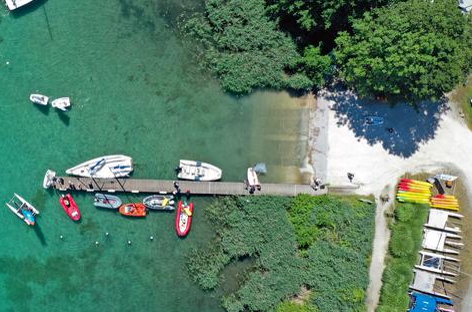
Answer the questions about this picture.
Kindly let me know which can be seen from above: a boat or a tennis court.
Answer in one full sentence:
The one in the frame is a boat.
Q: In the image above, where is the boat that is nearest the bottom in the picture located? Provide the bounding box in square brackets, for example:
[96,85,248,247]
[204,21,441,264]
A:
[409,294,453,312]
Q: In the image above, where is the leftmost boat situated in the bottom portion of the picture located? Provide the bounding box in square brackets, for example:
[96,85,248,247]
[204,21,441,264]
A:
[6,193,40,225]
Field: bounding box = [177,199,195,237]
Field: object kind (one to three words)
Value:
boat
